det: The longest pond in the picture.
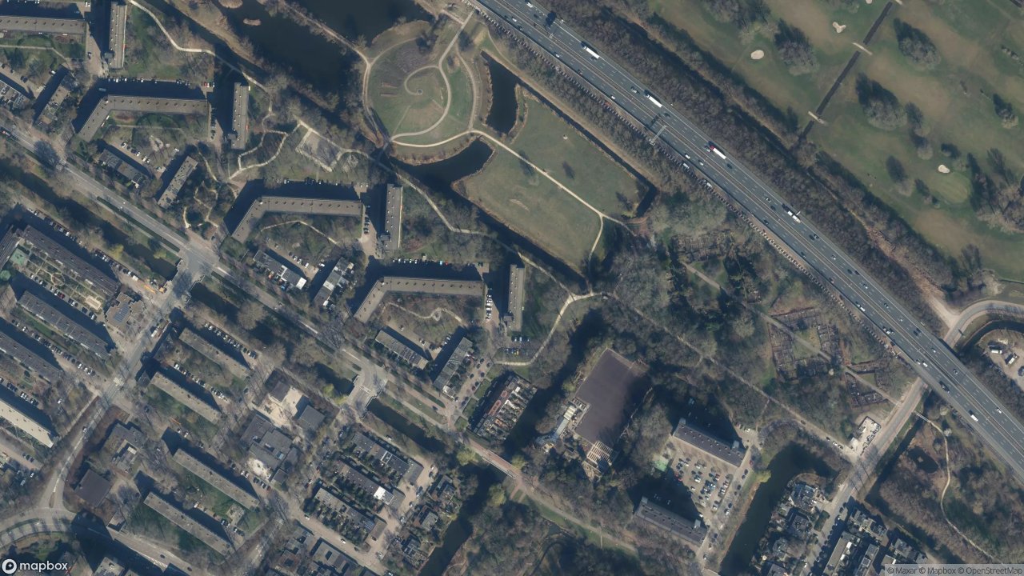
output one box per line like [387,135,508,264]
[483,52,656,215]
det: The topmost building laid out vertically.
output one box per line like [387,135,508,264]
[101,1,126,70]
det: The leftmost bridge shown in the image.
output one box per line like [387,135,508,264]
[168,258,208,294]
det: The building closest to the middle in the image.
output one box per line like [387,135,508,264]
[503,265,525,332]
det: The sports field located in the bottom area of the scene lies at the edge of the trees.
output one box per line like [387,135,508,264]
[573,346,652,451]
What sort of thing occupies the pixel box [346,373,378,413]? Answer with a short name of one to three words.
bridge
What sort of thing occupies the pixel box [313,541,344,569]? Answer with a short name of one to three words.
house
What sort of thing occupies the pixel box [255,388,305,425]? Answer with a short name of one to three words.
playground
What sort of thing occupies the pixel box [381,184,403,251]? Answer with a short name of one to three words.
building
